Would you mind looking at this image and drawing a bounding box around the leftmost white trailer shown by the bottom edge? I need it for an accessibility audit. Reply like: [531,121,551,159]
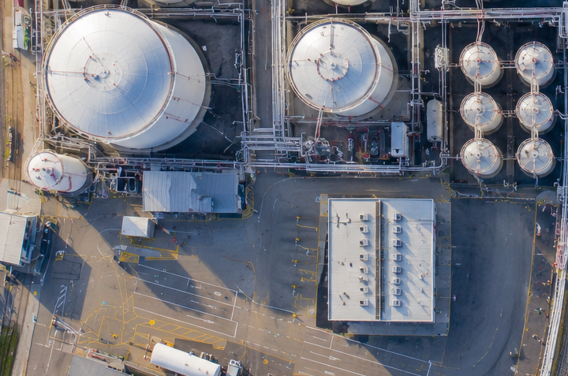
[148,345,221,376]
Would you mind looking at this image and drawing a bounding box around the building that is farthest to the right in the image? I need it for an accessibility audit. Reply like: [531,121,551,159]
[327,197,438,323]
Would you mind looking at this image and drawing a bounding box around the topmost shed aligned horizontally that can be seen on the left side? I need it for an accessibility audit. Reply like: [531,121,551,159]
[142,171,245,220]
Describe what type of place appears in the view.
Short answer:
industrial area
